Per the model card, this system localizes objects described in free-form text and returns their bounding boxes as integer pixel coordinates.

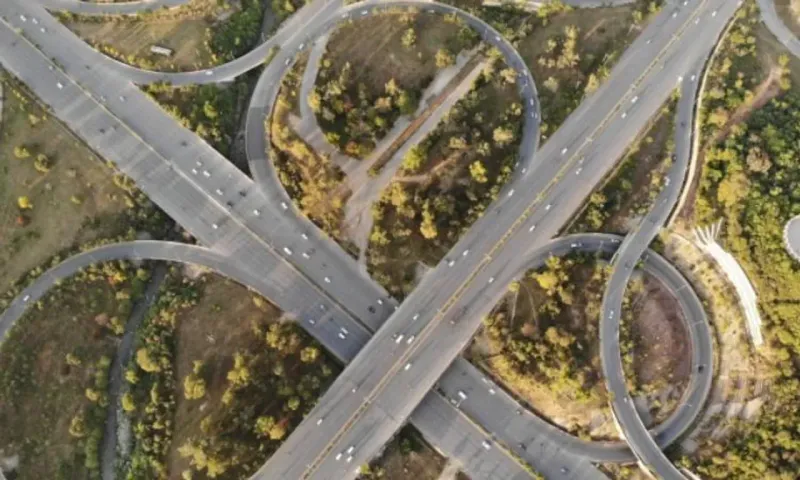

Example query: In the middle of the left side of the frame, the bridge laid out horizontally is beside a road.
[130,241,185,263]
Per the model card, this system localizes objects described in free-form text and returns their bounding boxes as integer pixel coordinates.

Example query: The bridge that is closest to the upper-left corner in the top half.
[217,47,267,80]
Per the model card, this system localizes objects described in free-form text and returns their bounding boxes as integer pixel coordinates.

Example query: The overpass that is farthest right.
[599,185,688,480]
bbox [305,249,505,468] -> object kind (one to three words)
bridge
